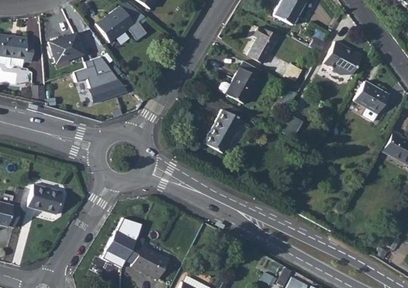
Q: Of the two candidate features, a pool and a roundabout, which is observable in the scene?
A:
roundabout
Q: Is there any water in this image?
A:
No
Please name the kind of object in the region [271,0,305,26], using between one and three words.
house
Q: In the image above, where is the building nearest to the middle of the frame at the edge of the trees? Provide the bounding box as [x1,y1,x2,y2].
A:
[206,110,240,154]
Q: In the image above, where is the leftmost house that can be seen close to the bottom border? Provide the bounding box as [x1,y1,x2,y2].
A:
[83,218,142,274]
